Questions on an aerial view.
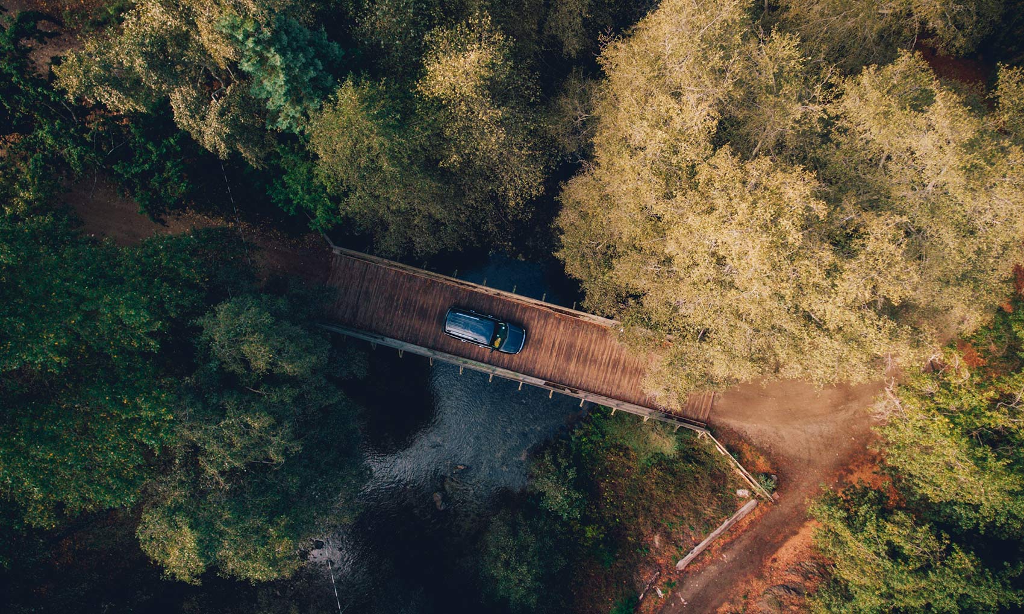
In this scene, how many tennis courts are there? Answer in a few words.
0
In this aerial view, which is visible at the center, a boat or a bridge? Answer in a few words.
bridge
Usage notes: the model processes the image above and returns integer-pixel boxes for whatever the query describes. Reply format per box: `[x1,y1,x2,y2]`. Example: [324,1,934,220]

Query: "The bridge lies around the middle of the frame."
[310,240,717,436]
